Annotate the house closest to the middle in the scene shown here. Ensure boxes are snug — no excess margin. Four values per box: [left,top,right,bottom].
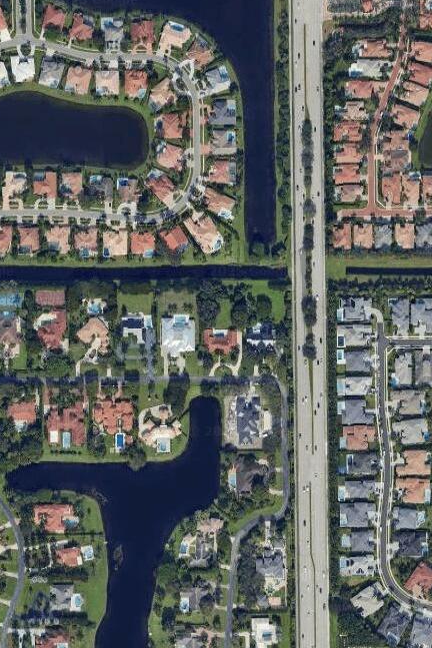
[204,326,240,353]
